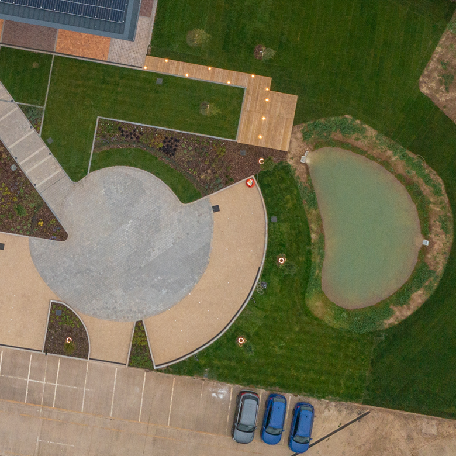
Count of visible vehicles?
3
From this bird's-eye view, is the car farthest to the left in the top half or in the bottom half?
bottom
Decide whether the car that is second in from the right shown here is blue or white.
blue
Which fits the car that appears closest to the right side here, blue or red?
blue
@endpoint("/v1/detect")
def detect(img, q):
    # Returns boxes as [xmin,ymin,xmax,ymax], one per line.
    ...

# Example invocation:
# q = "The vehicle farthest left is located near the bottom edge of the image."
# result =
[231,389,261,443]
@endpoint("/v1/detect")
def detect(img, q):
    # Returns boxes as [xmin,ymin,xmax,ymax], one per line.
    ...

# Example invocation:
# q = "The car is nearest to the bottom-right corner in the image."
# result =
[286,400,314,453]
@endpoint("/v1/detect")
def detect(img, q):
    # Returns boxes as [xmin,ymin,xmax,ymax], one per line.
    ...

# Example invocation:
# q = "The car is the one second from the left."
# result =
[258,392,287,445]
